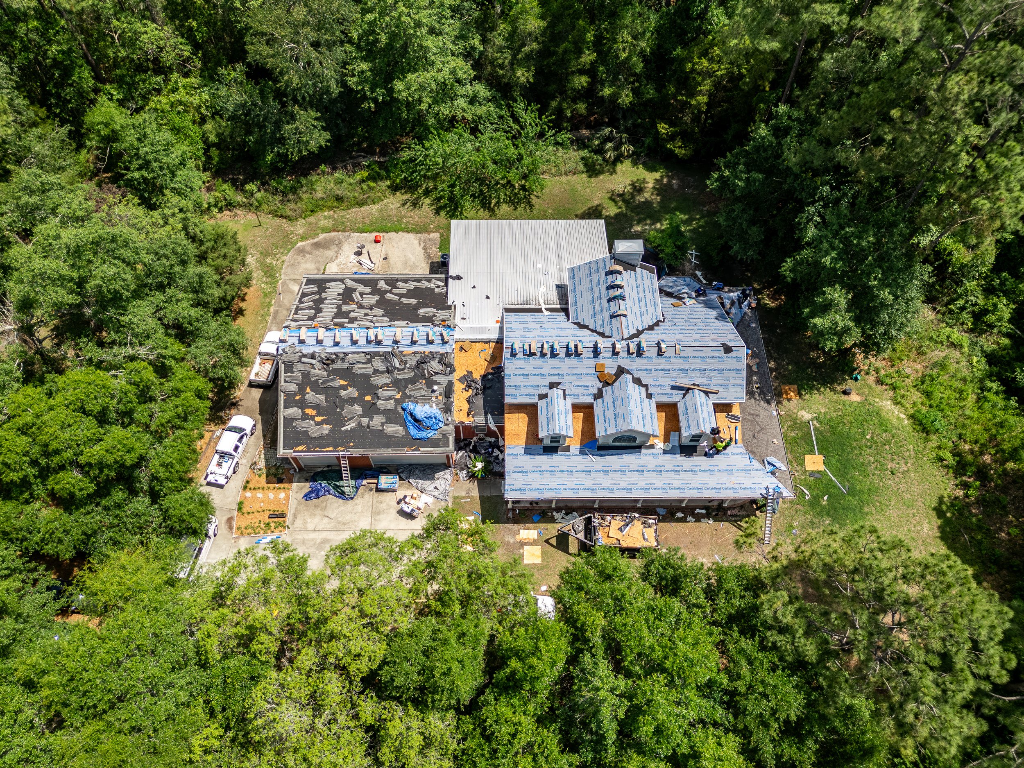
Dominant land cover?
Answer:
trees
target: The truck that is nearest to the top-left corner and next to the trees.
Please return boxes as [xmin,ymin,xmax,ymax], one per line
[250,333,281,390]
